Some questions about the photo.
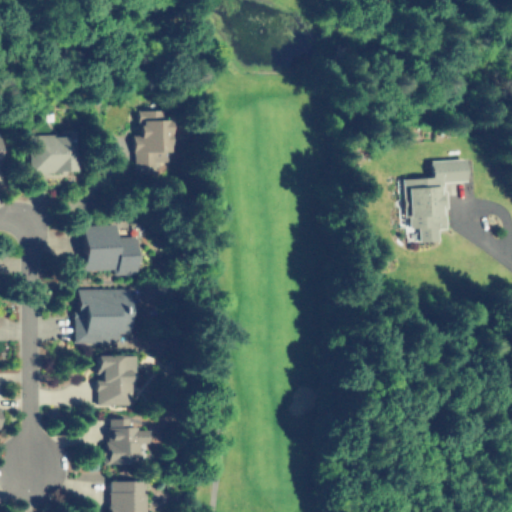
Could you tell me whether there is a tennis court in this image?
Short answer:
No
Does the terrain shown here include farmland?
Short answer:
No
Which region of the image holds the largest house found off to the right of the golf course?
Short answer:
right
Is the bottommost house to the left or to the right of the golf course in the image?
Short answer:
on the left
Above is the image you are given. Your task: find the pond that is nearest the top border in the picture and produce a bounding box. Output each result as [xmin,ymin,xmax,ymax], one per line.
[224,0,314,68]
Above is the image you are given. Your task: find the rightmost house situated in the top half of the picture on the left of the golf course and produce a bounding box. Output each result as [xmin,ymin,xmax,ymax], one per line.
[134,110,176,168]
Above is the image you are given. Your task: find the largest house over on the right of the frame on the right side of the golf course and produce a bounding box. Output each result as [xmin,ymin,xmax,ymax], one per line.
[404,160,471,244]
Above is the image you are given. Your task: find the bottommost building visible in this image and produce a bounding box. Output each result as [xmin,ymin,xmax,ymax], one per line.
[109,482,148,512]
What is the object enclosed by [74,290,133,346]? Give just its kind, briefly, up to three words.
house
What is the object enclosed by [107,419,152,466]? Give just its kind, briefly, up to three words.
house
